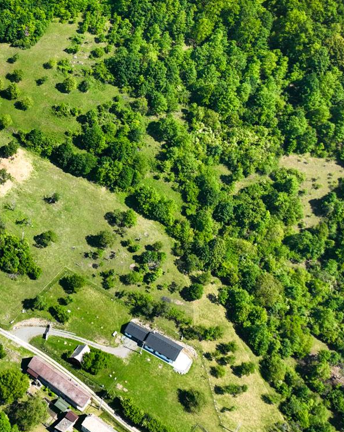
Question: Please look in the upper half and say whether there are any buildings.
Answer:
No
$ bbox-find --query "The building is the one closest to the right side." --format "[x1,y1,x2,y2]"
[144,331,183,363]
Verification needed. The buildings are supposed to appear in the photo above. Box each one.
[144,331,183,363]
[73,343,90,364]
[54,410,74,432]
[125,322,150,343]
[28,357,92,410]
[82,414,113,432]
